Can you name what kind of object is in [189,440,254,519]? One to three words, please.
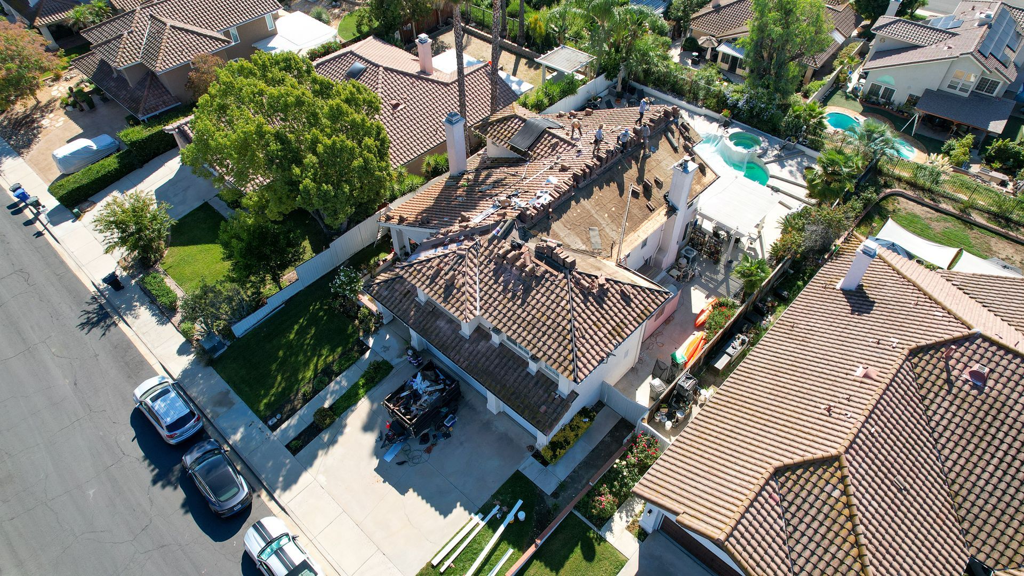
car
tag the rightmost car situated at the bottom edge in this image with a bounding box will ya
[253,519,331,576]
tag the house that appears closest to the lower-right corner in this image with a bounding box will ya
[627,230,1024,576]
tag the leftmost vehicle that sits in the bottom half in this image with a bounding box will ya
[136,376,204,445]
